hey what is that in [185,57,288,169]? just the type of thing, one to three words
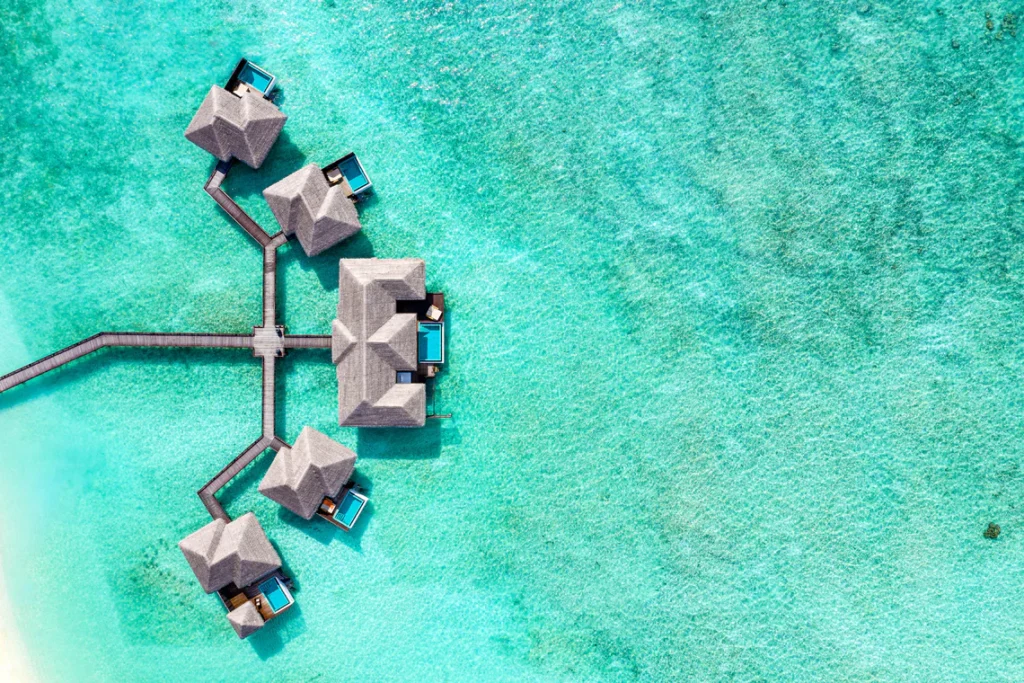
house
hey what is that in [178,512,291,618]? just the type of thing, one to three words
house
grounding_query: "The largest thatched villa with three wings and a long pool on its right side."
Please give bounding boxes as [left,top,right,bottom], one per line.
[332,258,454,427]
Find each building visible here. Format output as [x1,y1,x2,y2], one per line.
[332,258,454,427]
[259,425,361,532]
[185,57,288,169]
[178,512,291,618]
[263,151,364,257]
